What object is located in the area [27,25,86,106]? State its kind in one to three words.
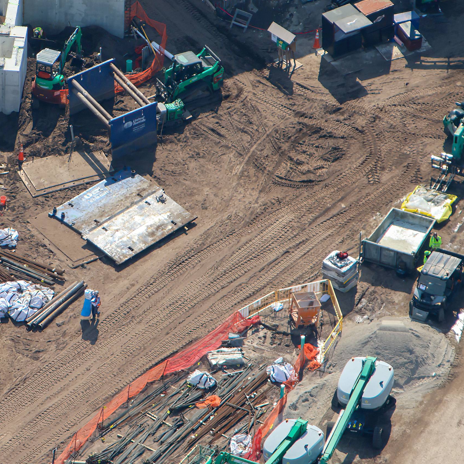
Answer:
work vehicle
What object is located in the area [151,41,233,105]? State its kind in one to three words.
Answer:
work vehicle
